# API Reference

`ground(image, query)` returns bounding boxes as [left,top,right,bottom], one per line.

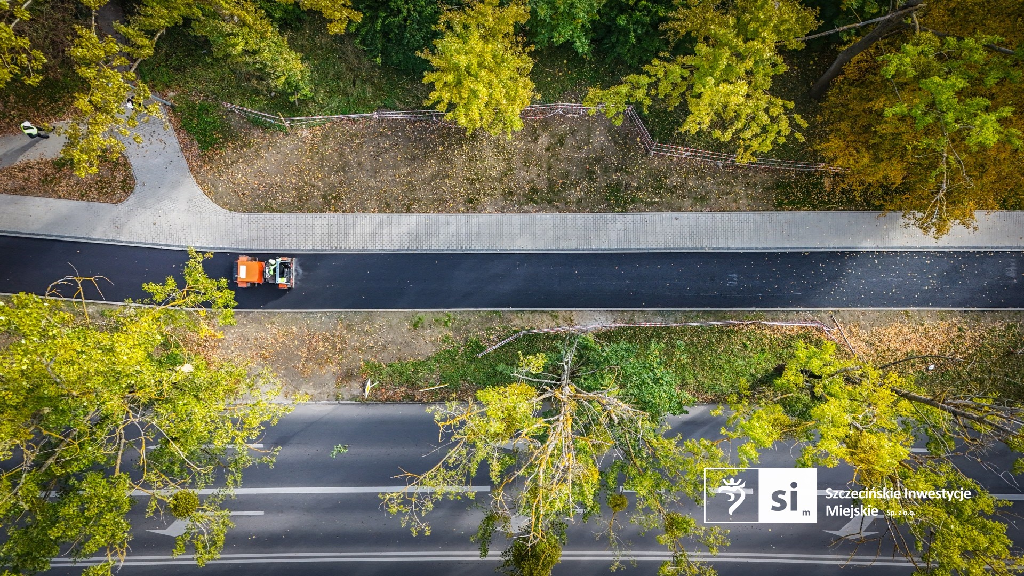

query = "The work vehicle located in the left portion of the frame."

[235,256,297,288]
